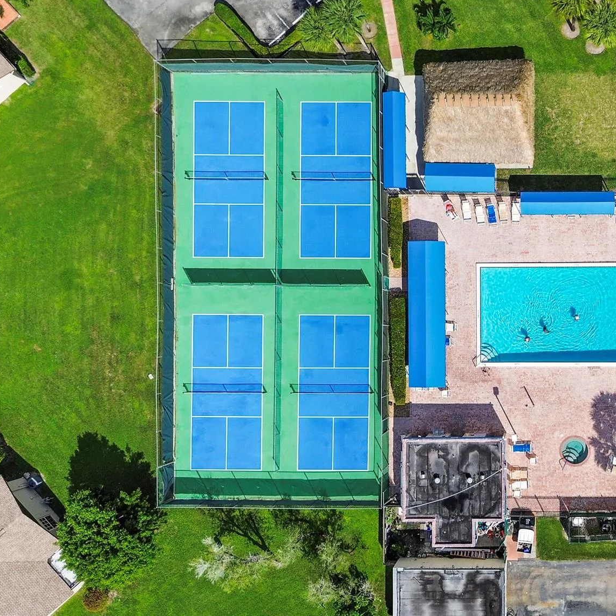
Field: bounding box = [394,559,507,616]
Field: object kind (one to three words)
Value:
building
